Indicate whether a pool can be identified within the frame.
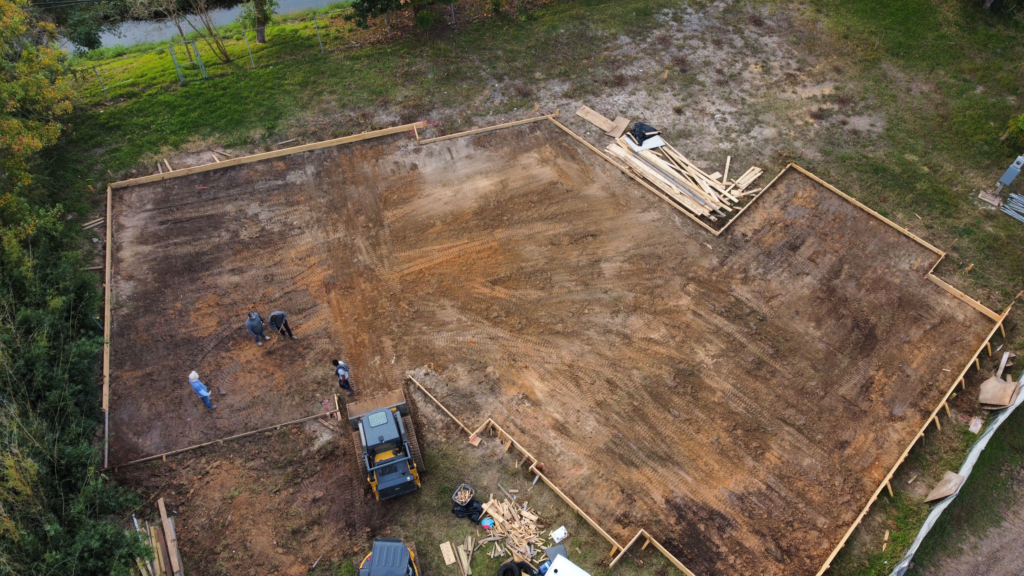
No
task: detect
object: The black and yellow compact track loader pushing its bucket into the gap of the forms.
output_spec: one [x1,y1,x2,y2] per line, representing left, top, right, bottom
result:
[346,387,425,505]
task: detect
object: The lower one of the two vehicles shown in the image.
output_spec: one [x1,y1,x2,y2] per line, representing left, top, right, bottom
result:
[354,539,424,576]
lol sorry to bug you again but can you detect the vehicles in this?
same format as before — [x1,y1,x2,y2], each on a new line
[346,387,425,505]
[354,539,424,576]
